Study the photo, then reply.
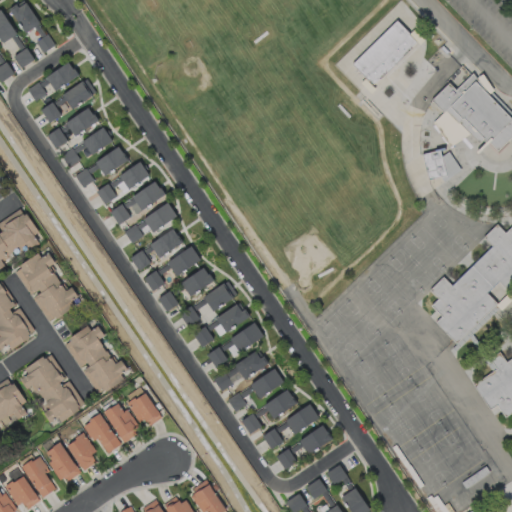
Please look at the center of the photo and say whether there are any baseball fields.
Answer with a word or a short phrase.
Yes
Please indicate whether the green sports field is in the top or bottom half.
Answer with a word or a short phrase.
top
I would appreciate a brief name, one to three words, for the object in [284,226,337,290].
baseball field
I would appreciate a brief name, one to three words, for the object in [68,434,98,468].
house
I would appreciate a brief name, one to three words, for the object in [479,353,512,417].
building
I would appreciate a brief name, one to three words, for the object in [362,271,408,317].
basketball court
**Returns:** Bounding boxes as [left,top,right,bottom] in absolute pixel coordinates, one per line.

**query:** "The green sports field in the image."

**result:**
[86,0,434,316]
